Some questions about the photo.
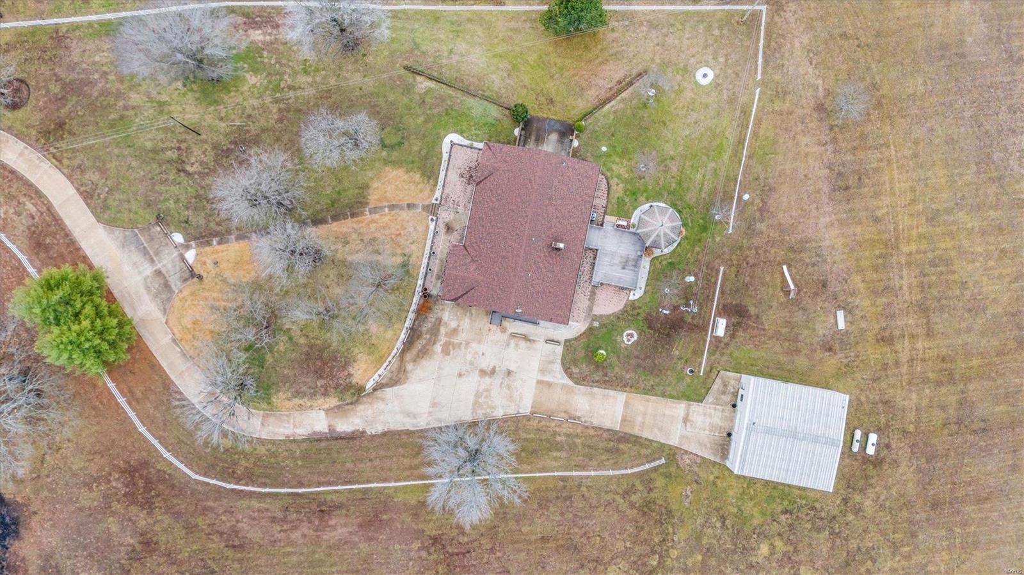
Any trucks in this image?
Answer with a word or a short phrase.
No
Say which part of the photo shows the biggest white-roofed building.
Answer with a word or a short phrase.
bottom right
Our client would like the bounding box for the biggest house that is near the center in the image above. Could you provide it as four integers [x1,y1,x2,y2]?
[443,141,601,325]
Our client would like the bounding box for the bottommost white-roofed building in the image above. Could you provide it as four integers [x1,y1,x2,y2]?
[727,374,852,494]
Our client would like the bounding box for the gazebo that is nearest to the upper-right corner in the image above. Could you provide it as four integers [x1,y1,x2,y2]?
[635,205,682,249]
